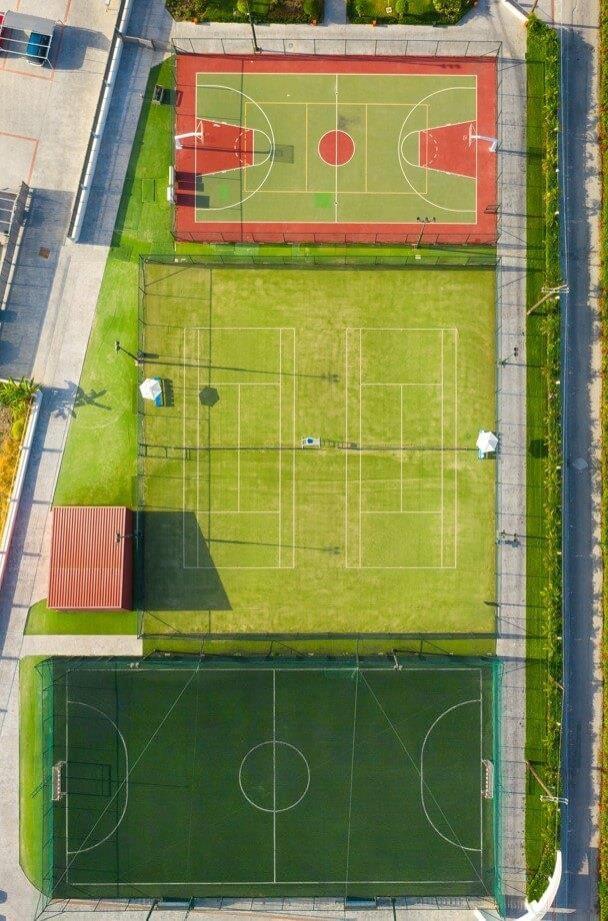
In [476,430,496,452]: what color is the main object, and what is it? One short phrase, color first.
white umbrella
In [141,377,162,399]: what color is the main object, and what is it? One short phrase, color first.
white umbrella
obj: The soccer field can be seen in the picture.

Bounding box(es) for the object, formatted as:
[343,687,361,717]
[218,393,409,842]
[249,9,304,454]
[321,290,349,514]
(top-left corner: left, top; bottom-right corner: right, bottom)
[53,657,497,899]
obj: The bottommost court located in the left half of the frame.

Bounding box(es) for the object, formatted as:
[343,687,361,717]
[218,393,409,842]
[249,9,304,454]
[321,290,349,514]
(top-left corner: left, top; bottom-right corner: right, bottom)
[183,328,295,568]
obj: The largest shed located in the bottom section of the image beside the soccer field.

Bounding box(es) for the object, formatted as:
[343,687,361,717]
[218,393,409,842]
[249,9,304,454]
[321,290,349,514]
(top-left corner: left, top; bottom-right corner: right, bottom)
[47,506,132,609]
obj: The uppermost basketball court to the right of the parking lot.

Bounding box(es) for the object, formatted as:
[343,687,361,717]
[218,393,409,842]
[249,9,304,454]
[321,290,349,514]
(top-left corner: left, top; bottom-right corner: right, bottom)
[176,54,497,243]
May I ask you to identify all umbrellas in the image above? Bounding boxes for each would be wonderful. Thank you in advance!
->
[476,430,496,452]
[141,377,162,399]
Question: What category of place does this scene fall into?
sports ground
